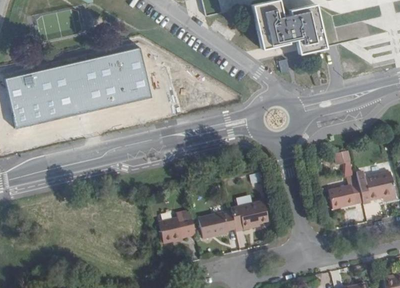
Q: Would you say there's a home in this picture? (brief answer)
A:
Yes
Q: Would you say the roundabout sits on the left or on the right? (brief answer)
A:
right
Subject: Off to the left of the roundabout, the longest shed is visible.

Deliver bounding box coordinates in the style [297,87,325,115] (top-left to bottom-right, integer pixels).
[5,48,150,128]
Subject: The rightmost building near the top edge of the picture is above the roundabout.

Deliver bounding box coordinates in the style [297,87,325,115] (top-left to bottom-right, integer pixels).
[250,0,328,55]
